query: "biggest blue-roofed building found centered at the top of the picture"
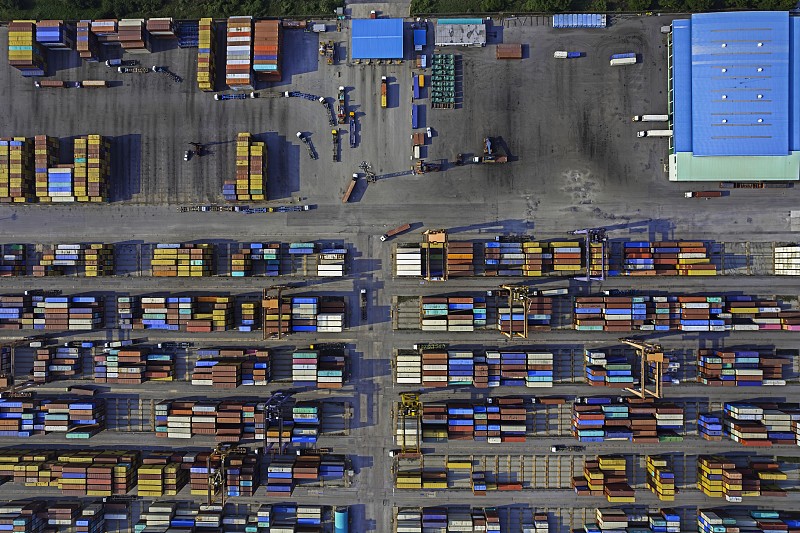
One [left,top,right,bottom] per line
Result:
[352,19,403,64]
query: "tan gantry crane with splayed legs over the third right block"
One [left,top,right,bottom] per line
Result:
[618,341,664,398]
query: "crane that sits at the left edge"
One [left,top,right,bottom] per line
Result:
[0,339,49,392]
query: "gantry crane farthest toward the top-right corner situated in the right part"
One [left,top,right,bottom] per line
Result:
[568,230,606,281]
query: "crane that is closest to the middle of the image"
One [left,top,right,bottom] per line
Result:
[423,230,448,281]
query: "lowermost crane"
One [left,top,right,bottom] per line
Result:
[207,440,245,506]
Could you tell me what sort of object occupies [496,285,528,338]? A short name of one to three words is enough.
container crane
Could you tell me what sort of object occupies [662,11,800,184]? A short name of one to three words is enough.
warehouse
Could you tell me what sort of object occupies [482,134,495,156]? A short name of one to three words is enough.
vehicle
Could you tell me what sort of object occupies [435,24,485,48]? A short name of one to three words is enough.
building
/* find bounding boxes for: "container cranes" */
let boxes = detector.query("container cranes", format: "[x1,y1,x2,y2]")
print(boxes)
[496,285,528,338]
[618,341,664,398]
[0,339,49,392]
[264,393,298,449]
[262,286,296,340]
[207,440,245,506]
[398,385,423,454]
[568,230,606,281]
[423,230,448,281]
